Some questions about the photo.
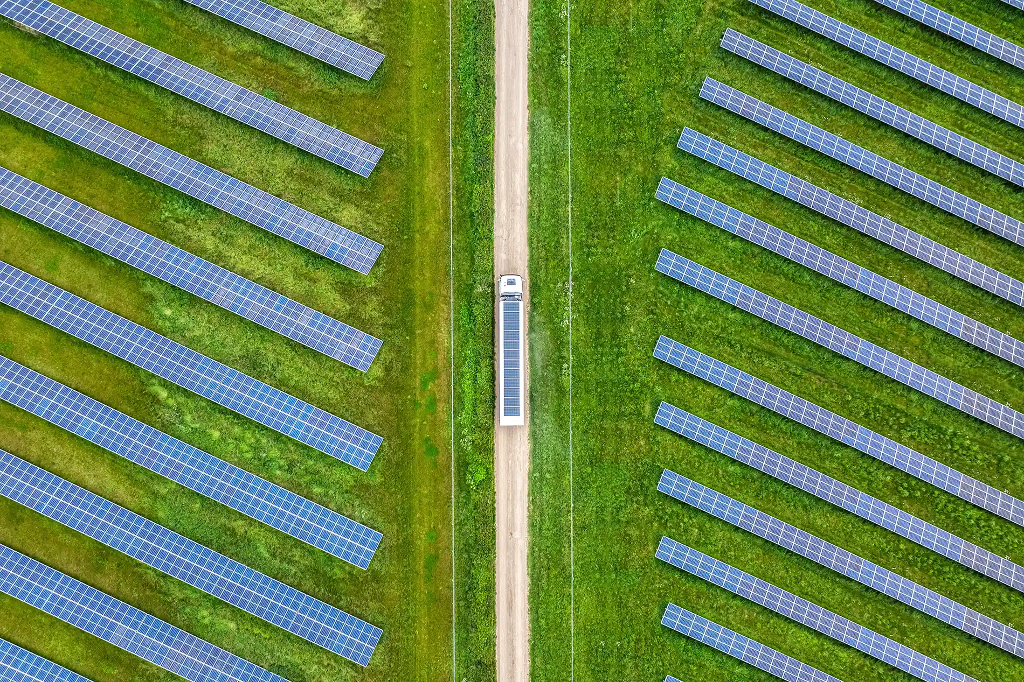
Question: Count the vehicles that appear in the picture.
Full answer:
Just 1 vehicle appears in this view.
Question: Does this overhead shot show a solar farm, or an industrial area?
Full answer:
The picture captures a solar farm.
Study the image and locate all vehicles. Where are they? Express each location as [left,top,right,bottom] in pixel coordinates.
[497,273,525,427]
